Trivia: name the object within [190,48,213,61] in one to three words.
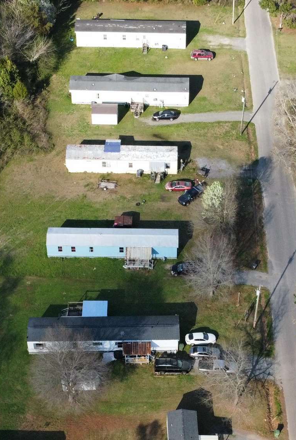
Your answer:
vehicle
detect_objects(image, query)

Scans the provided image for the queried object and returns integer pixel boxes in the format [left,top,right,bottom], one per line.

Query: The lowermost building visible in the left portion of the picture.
[26,300,179,362]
